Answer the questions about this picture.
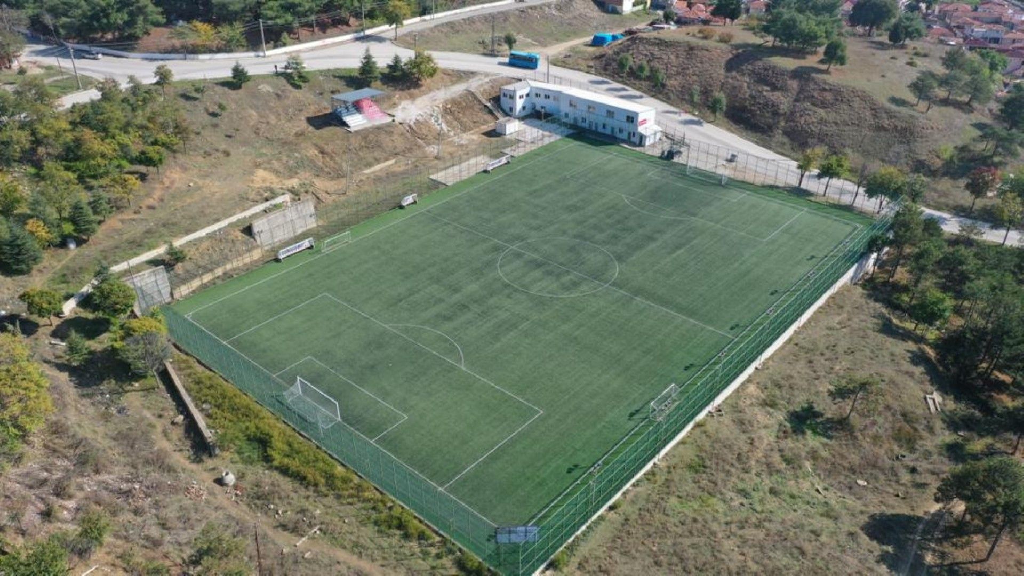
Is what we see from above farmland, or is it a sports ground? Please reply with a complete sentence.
This image shows a sports ground.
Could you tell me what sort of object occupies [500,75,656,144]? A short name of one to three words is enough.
building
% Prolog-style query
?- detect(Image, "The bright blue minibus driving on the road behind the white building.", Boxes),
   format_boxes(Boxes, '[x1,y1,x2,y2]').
[506,54,540,70]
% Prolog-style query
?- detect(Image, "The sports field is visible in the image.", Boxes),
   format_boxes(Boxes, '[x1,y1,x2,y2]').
[144,136,895,576]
